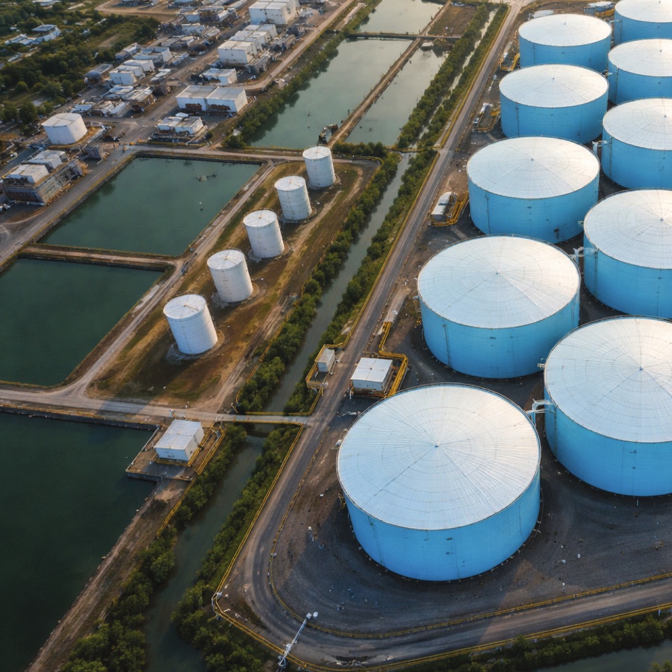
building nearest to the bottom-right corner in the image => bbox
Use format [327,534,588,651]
[348,357,395,397]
